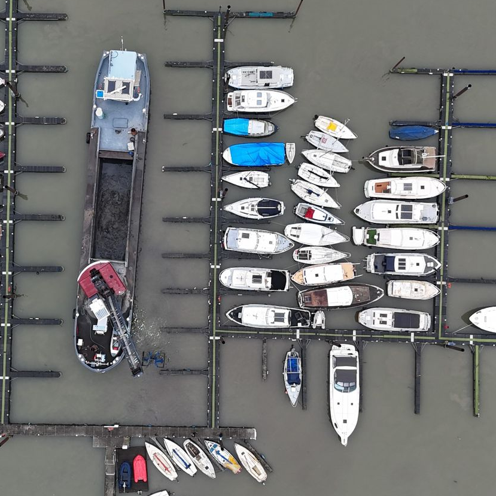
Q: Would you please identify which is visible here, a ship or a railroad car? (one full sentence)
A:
Of the two, only a ship appears.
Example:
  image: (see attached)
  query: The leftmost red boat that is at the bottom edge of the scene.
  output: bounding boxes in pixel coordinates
[134,454,147,484]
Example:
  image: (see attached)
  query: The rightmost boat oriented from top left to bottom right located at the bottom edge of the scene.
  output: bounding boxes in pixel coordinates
[235,443,268,485]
